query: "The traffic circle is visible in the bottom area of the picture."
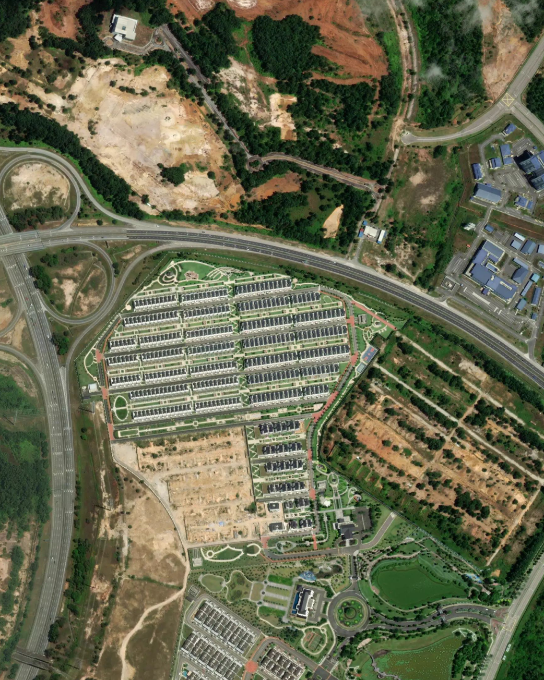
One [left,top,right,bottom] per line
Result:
[328,591,372,635]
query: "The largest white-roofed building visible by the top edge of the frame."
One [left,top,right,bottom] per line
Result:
[113,15,139,38]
